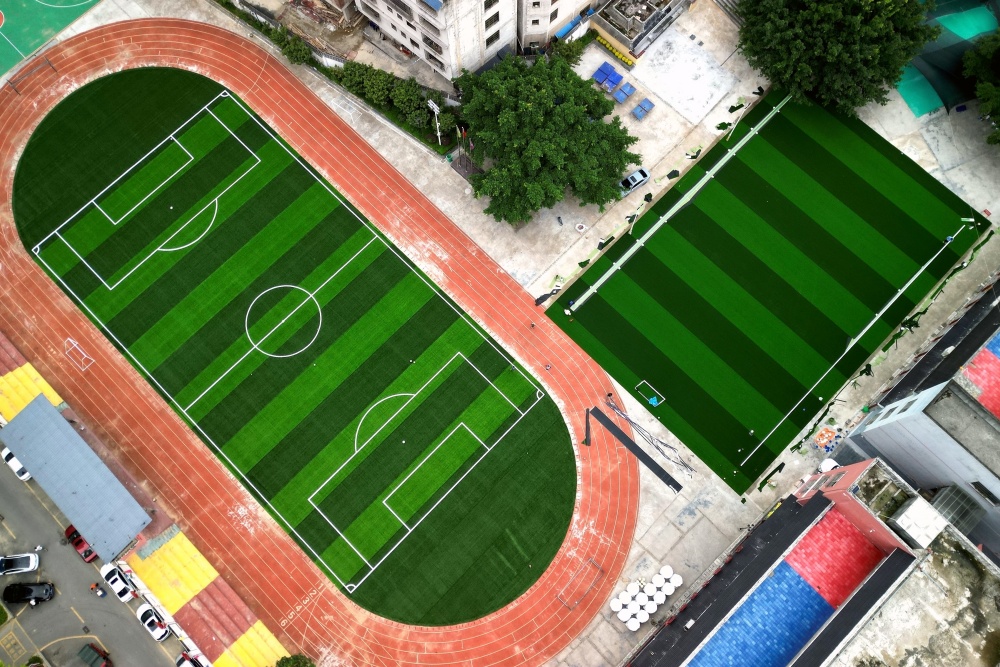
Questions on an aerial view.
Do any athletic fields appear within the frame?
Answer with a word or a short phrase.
Yes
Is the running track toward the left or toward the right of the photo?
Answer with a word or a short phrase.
left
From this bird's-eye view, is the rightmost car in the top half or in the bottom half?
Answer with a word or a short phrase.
top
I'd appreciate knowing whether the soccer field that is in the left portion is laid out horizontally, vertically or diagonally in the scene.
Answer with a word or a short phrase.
diagonally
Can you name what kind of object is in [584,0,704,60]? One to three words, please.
house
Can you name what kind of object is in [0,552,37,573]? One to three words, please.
car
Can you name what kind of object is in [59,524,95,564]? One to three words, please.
car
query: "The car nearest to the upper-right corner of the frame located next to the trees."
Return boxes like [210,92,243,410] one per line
[618,164,649,195]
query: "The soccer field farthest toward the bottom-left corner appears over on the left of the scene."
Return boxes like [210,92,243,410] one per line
[10,61,578,626]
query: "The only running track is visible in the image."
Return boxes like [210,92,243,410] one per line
[0,17,641,667]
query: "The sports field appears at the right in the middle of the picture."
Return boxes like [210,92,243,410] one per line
[545,73,990,497]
